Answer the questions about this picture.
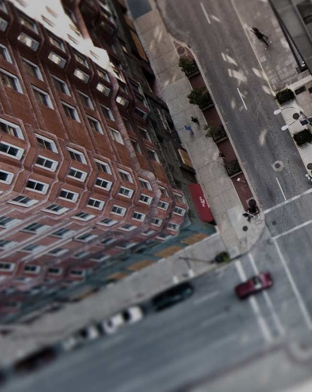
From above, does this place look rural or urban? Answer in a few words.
urban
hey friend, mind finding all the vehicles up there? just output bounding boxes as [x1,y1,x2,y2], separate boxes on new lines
[13,345,55,375]
[234,271,275,301]
[100,305,143,336]
[149,281,195,312]
[60,325,99,354]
